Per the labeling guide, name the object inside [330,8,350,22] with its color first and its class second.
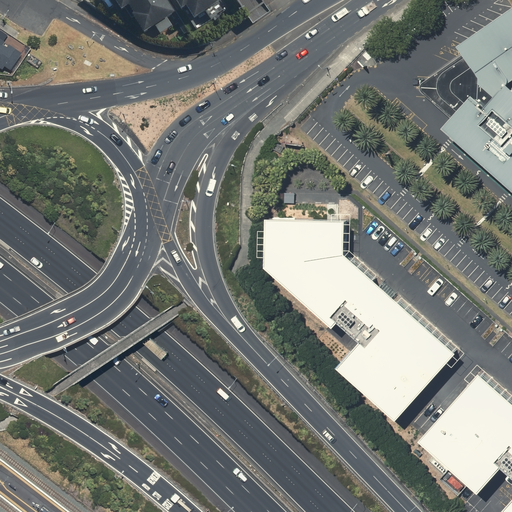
white vehicle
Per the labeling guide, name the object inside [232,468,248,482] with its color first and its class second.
white vehicle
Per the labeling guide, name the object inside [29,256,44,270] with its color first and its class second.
white car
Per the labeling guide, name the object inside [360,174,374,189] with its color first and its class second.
white car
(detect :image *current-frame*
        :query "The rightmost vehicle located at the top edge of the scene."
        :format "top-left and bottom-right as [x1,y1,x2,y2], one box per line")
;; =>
[357,2,378,18]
